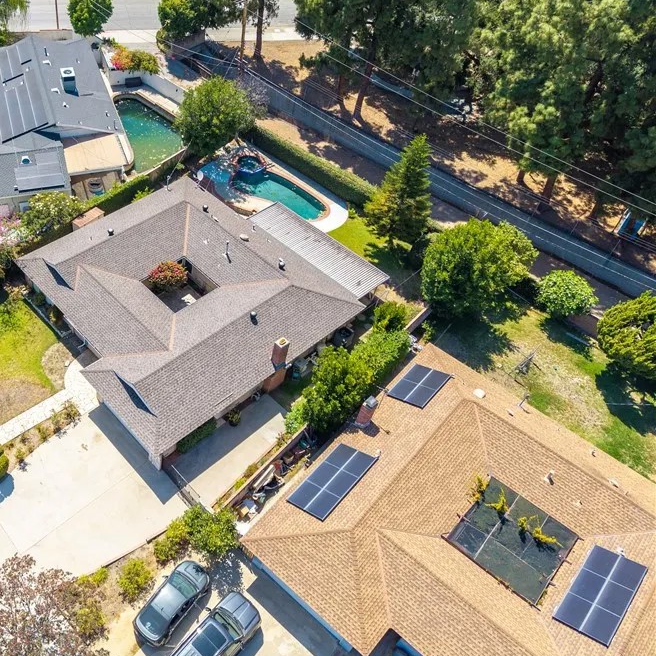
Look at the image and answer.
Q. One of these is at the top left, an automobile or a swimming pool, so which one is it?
swimming pool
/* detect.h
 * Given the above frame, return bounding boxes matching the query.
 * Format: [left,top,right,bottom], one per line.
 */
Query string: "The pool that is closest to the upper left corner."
[111,91,189,173]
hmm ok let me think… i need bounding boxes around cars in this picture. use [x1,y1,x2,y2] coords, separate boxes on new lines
[135,561,211,651]
[179,597,263,656]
